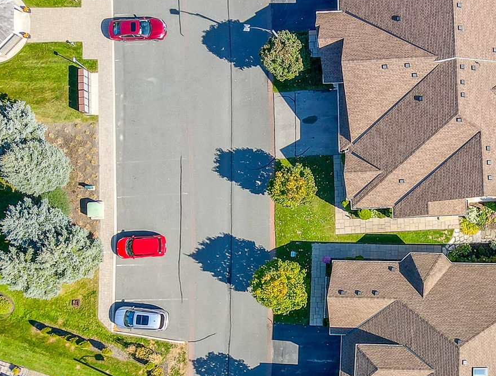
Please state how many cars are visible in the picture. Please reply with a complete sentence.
I count 3 cars.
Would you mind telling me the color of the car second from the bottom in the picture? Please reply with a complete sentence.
The car second from the bottom is red.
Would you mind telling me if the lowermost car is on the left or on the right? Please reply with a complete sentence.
The lowermost car is on the left side of the image.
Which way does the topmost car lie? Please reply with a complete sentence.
What the image shows is the topmost car lying horizontally.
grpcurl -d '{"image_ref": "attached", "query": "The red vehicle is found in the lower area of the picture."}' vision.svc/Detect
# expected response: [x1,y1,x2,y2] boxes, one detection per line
[118,232,169,259]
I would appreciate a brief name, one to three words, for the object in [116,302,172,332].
car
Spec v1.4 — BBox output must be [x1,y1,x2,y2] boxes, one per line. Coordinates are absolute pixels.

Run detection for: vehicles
[109,14,170,44]
[118,232,169,259]
[116,302,172,332]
